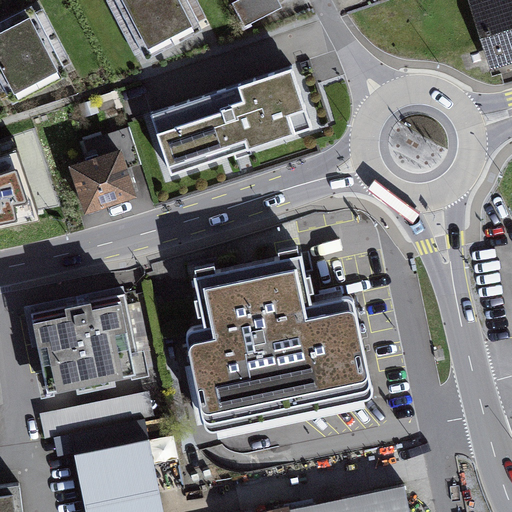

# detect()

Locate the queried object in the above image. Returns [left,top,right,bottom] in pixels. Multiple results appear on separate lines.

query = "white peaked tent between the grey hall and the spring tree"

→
[150,436,179,464]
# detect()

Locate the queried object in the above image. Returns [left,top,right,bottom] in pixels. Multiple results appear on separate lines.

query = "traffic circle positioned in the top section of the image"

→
[349,75,488,214]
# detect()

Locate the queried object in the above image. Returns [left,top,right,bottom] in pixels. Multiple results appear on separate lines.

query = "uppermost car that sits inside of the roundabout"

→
[431,90,454,110]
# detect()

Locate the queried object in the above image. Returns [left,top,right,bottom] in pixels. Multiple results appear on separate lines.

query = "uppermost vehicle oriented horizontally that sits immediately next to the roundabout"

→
[329,178,354,190]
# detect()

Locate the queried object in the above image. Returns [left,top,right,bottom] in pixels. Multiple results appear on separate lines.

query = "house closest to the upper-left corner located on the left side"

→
[0,6,70,100]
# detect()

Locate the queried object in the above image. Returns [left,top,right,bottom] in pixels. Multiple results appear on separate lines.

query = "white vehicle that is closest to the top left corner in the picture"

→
[110,203,132,216]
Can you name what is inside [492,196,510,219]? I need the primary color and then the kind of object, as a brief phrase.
white car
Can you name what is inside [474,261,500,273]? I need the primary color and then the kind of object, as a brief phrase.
white vehicle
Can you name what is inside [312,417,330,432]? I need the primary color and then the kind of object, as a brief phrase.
white car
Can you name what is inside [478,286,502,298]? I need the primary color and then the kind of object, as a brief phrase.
white vehicle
